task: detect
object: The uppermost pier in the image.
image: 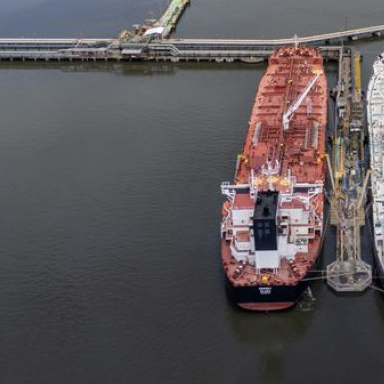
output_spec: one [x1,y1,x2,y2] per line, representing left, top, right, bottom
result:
[151,0,191,38]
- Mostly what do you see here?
water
